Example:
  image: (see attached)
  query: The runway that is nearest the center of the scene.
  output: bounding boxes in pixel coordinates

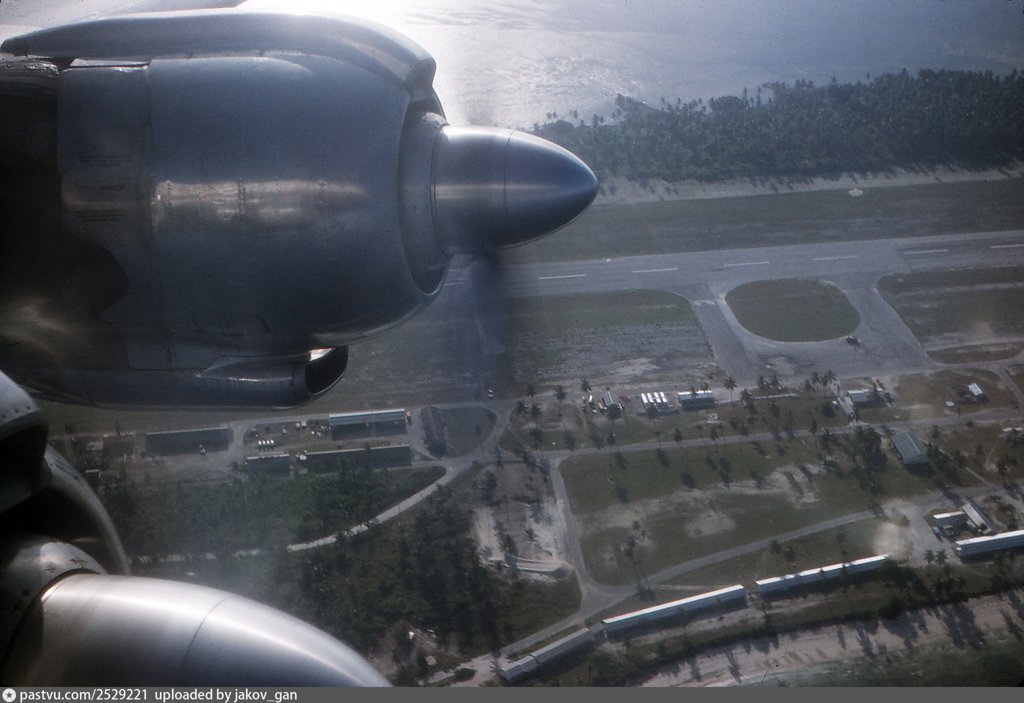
[435,239,918,302]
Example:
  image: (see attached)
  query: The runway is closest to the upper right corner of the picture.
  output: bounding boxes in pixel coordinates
[890,230,1024,270]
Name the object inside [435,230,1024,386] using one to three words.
airport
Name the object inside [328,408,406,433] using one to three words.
hangar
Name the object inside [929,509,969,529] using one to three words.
building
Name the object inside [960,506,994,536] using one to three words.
shed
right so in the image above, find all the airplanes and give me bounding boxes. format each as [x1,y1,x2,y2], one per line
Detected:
[0,0,599,703]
